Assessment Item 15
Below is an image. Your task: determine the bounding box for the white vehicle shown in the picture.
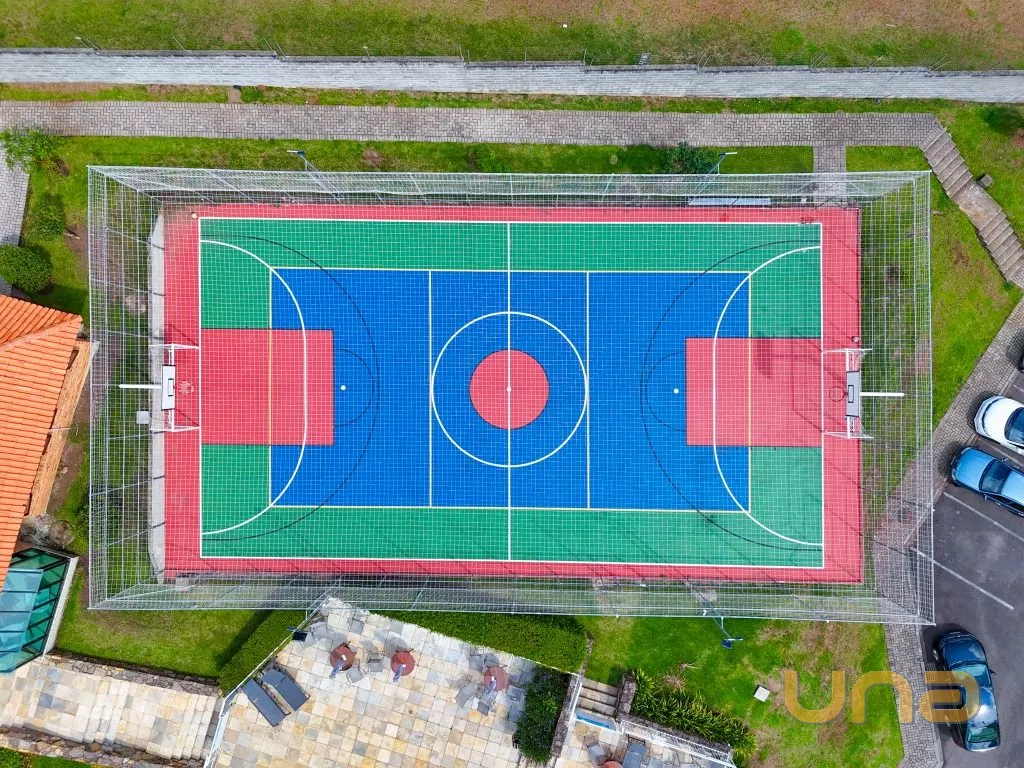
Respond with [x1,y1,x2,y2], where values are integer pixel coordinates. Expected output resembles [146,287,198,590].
[975,395,1024,456]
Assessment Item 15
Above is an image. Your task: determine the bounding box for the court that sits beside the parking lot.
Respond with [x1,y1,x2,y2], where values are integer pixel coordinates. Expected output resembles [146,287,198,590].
[164,204,862,583]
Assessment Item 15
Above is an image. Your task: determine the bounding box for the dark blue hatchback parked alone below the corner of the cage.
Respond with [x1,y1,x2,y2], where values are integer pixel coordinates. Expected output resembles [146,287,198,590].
[932,631,1002,752]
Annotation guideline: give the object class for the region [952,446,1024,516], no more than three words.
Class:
car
